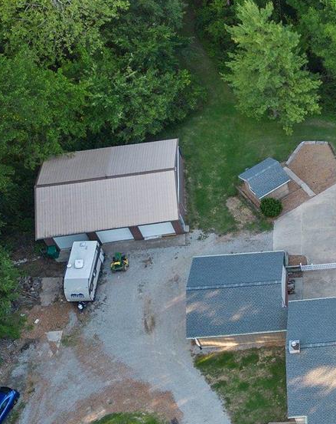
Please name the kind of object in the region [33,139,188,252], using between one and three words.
barn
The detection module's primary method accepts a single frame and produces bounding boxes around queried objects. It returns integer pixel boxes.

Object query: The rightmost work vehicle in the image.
[109,248,127,269]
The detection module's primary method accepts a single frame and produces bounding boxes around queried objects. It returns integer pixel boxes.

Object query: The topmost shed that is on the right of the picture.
[240,158,292,205]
